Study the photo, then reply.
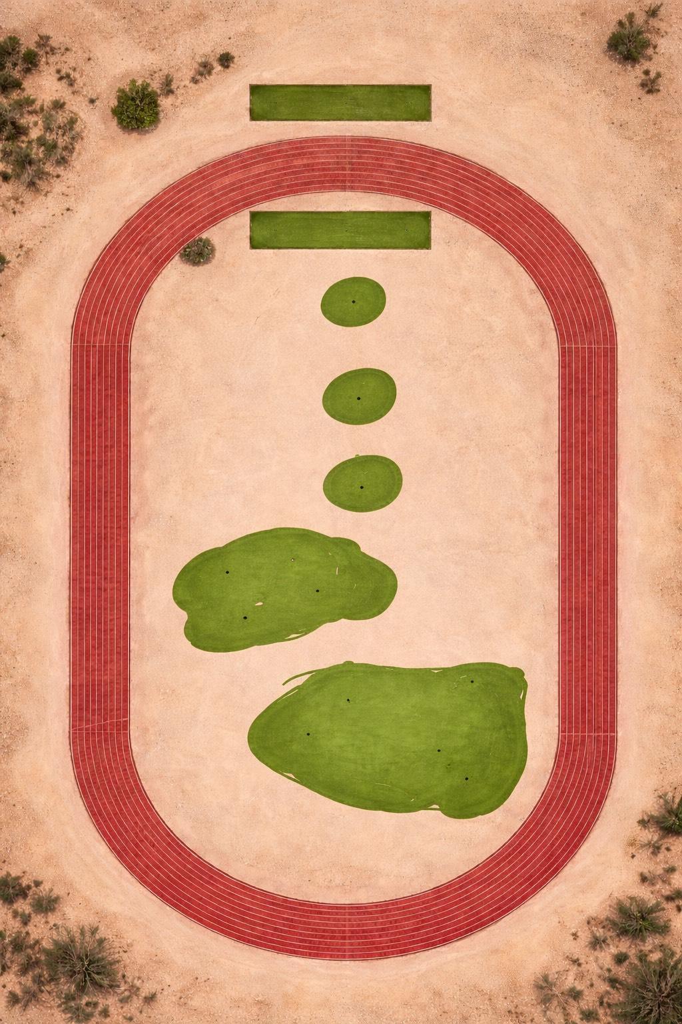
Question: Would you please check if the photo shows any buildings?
No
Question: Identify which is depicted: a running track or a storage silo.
running track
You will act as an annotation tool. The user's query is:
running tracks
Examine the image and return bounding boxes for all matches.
[70,136,618,961]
